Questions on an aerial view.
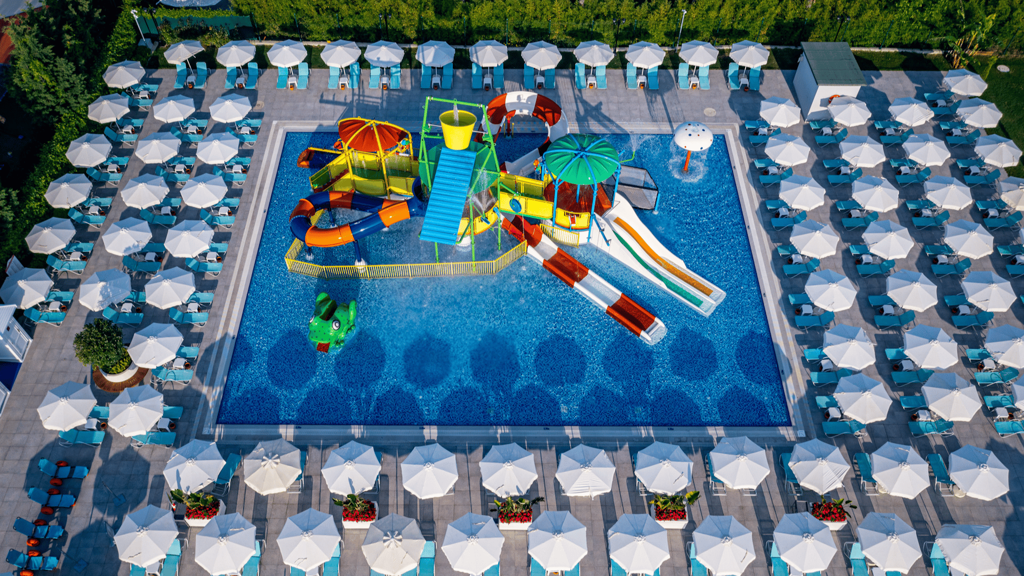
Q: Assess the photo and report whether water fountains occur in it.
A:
Yes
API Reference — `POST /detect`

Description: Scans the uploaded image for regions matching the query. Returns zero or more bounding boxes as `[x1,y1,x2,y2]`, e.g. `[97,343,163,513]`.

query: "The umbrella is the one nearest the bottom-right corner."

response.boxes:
[936,515,1004,576]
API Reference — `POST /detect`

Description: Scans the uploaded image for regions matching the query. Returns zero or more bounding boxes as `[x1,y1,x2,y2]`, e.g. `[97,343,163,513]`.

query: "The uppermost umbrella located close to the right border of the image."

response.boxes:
[943,68,986,107]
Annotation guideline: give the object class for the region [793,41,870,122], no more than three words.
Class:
shed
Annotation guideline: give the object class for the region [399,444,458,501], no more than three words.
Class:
umbrella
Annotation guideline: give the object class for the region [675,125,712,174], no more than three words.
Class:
fountain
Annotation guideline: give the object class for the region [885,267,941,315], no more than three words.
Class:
umbrella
